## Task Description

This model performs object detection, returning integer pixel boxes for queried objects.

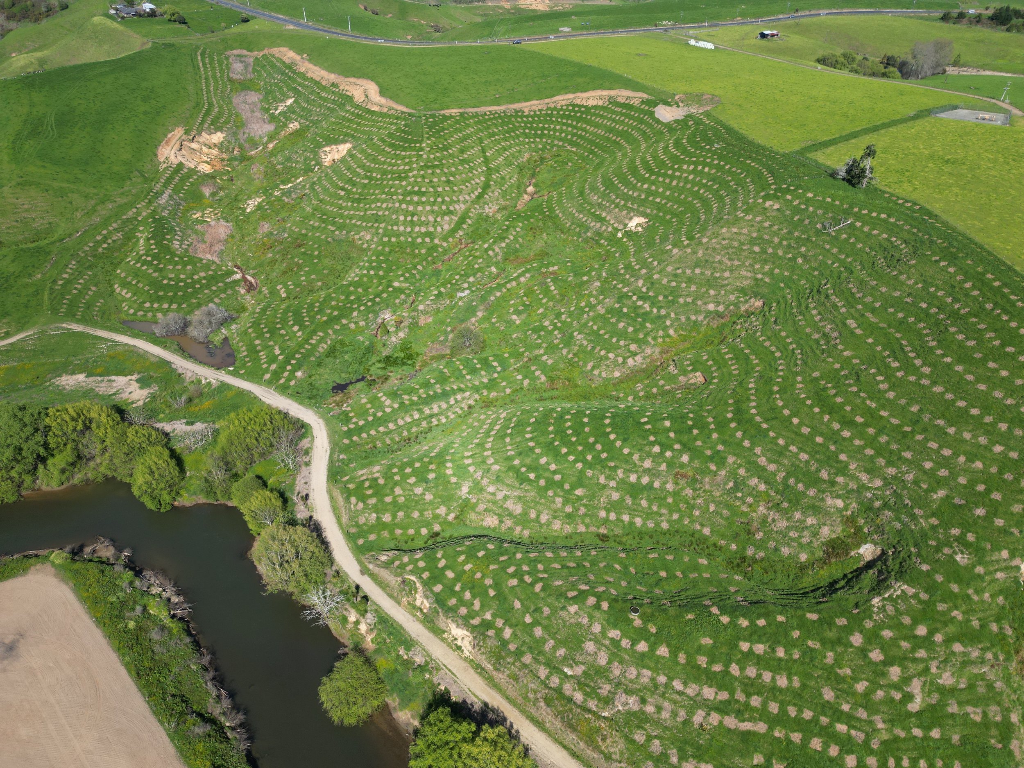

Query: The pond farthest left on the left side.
[123,319,236,369]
